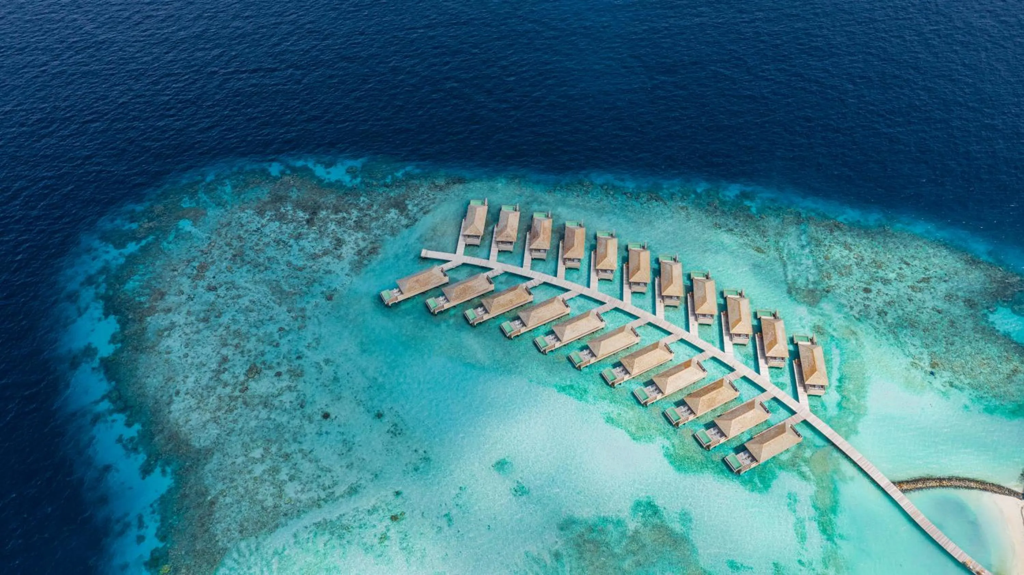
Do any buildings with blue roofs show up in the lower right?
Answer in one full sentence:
No, the scene shows no building with a blue roof in the lower right.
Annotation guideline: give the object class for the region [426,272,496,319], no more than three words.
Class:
house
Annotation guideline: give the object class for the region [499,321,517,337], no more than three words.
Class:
swimming pool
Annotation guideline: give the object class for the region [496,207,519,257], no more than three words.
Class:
house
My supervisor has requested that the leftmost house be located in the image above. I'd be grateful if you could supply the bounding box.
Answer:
[380,265,450,312]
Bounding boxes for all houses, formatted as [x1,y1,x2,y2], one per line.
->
[464,284,535,330]
[463,203,487,251]
[641,359,708,409]
[734,422,803,477]
[576,324,641,372]
[661,255,683,309]
[564,221,585,272]
[507,296,572,342]
[542,309,607,355]
[792,336,828,397]
[496,207,519,257]
[723,291,752,347]
[530,216,552,264]
[426,272,496,319]
[609,341,676,389]
[627,247,650,297]
[690,272,717,325]
[596,231,617,284]
[757,310,788,369]
[704,399,772,452]
[380,265,450,312]
[673,378,741,429]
